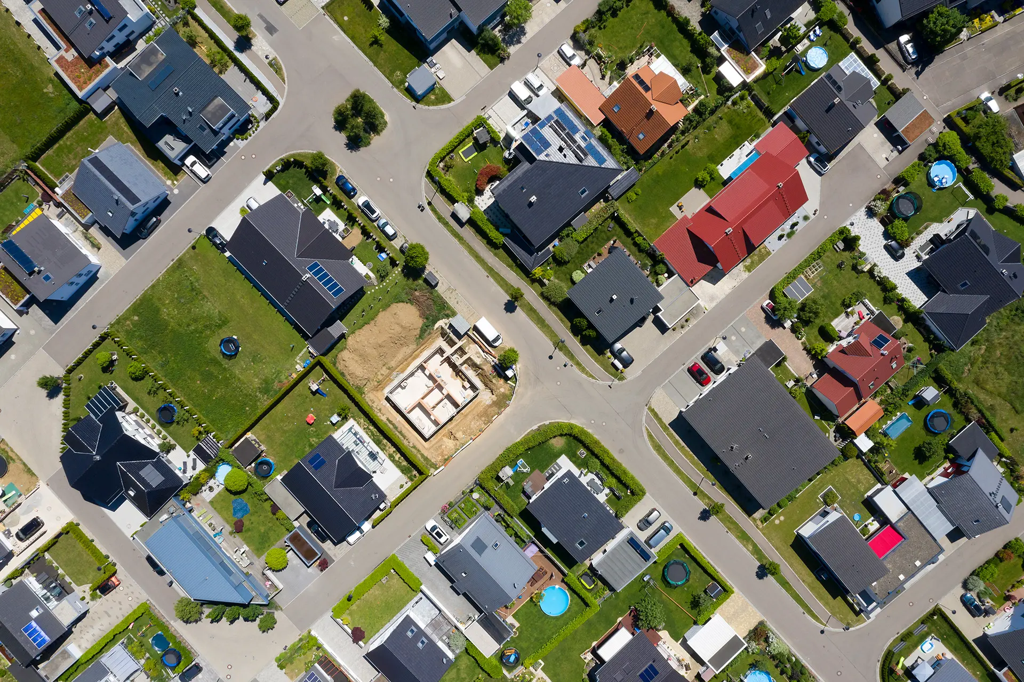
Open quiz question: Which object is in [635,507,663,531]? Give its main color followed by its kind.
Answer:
gray car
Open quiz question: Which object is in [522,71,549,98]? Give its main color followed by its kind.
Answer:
white car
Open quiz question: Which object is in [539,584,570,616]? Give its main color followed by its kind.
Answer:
blue swimming pool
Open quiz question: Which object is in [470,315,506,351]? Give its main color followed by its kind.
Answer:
white vehicle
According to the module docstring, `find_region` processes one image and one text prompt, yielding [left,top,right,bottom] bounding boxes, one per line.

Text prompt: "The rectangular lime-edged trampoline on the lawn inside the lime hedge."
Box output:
[457,141,479,163]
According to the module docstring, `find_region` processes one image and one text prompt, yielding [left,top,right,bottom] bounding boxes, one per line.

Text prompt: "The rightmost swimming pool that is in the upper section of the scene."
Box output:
[925,160,957,191]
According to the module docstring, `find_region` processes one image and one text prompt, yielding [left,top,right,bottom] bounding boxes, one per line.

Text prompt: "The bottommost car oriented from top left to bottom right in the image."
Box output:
[957,591,986,619]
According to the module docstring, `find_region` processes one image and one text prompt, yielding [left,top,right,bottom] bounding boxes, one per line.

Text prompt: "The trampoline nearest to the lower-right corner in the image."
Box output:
[923,409,956,435]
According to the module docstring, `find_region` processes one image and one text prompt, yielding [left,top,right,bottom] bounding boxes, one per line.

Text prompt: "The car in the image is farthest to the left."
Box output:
[14,515,47,541]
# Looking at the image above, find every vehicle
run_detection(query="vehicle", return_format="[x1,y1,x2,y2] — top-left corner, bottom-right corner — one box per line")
[137,214,164,240]
[699,348,727,376]
[635,507,663,531]
[397,241,411,255]
[244,193,262,209]
[334,174,359,199]
[881,238,906,262]
[98,574,124,596]
[183,154,213,184]
[557,41,584,69]
[806,151,831,177]
[355,194,383,223]
[759,298,780,322]
[508,77,535,107]
[608,340,636,370]
[686,361,713,387]
[470,315,506,351]
[196,148,219,169]
[344,520,373,544]
[14,515,47,541]
[642,519,675,549]
[957,591,986,619]
[178,660,205,682]
[424,518,452,547]
[144,553,169,578]
[375,217,400,242]
[522,71,549,98]
[204,225,228,252]
[896,34,919,64]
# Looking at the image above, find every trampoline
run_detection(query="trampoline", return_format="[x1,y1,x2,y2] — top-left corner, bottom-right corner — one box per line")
[457,141,479,163]
[663,559,692,589]
[923,409,956,435]
[501,648,520,667]
[219,337,239,357]
[0,456,10,474]
[894,191,925,219]
[251,458,275,478]
[578,570,597,588]
[152,404,176,422]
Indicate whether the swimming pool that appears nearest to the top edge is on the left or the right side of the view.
right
